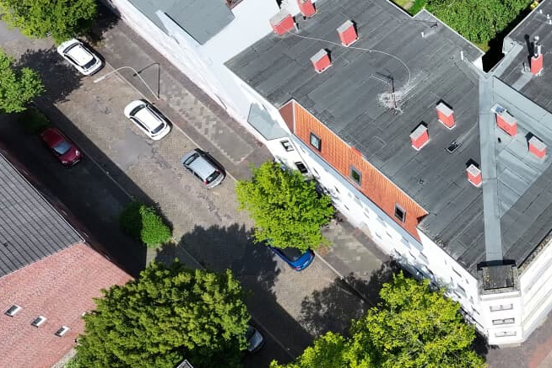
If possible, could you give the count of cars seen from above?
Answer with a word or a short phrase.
6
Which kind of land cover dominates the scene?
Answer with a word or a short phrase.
buildings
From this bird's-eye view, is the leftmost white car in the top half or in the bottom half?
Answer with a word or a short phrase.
top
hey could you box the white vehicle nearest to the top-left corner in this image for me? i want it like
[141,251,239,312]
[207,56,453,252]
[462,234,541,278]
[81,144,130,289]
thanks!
[61,43,103,80]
